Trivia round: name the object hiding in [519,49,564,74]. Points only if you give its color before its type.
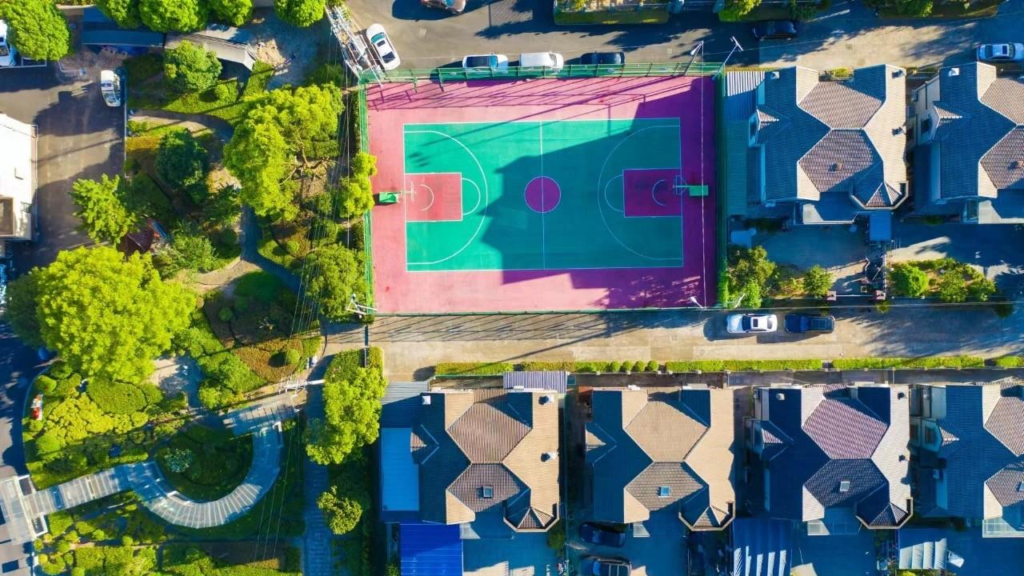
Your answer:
white vehicle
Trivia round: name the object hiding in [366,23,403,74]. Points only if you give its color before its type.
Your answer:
white car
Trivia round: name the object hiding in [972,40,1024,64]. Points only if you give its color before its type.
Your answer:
blue car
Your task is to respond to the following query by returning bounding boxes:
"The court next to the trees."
[367,75,720,315]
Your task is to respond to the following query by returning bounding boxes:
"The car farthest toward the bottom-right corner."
[782,311,834,335]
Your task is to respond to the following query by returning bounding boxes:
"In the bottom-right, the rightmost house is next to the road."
[910,382,1024,532]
